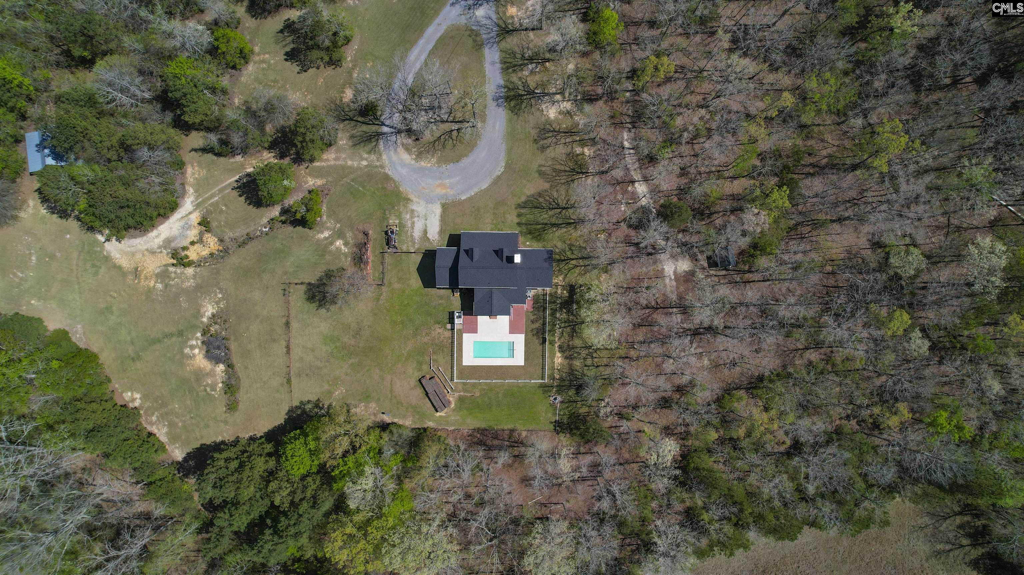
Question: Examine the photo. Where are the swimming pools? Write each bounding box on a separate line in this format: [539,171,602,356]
[473,341,514,358]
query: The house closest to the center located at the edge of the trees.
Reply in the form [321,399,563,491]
[435,231,553,319]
